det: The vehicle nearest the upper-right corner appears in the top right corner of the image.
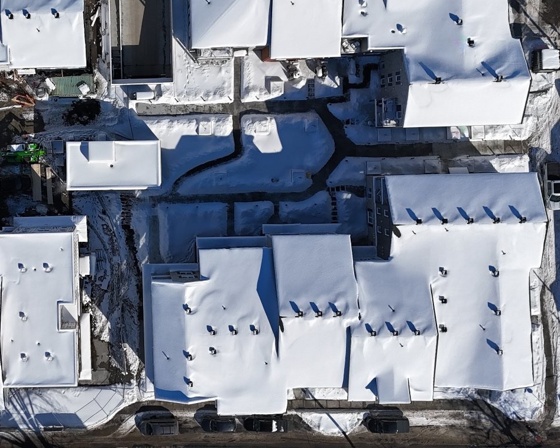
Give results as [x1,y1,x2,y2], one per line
[528,49,560,70]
